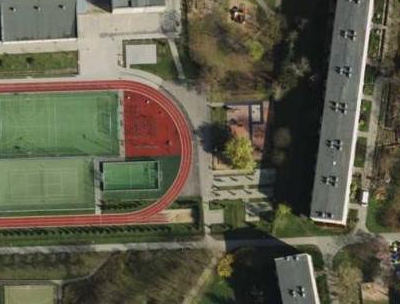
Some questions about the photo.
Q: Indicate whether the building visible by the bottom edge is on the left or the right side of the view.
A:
right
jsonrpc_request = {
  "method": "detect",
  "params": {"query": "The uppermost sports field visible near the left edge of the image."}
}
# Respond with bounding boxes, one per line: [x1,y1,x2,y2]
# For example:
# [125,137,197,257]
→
[0,91,117,158]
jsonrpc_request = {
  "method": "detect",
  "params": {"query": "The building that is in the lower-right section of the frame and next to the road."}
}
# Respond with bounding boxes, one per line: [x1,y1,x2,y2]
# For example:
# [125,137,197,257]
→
[275,252,323,304]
